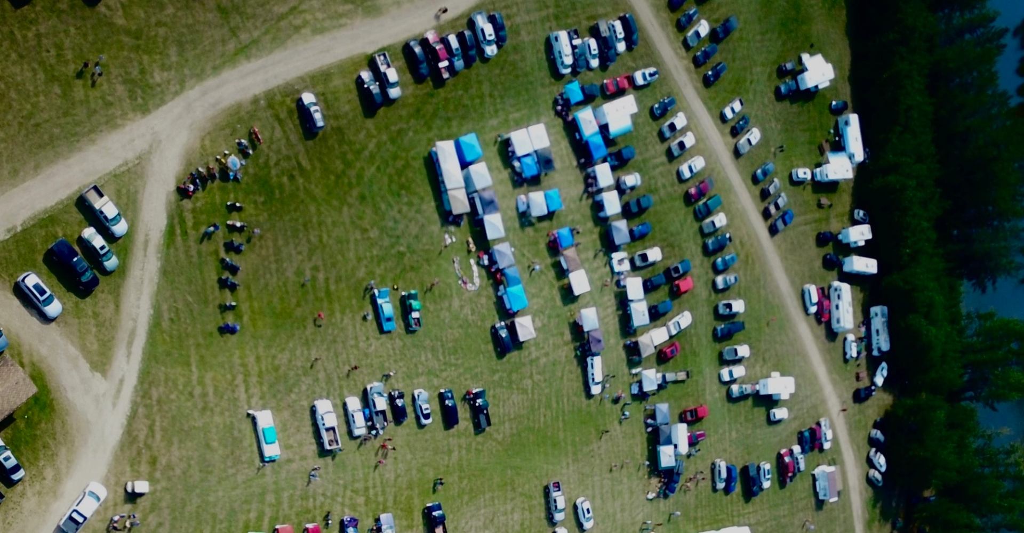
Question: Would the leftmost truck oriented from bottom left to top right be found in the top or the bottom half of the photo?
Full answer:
The leftmost truck oriented from bottom left to top right is in the bottom half of the image.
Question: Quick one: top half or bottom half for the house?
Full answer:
It is in the bottom half that the house appears.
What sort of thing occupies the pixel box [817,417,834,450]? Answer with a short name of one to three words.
vehicle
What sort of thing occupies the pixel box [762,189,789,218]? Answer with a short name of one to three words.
truck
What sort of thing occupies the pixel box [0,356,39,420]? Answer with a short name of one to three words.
house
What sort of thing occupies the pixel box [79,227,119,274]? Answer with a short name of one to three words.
car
